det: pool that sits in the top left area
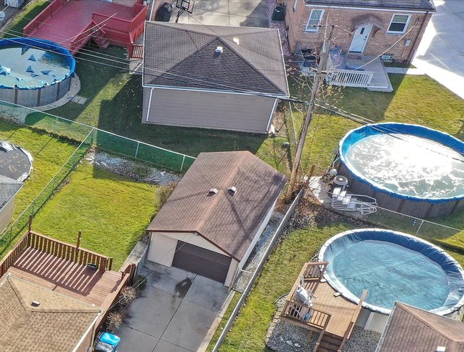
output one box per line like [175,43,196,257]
[0,37,81,106]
